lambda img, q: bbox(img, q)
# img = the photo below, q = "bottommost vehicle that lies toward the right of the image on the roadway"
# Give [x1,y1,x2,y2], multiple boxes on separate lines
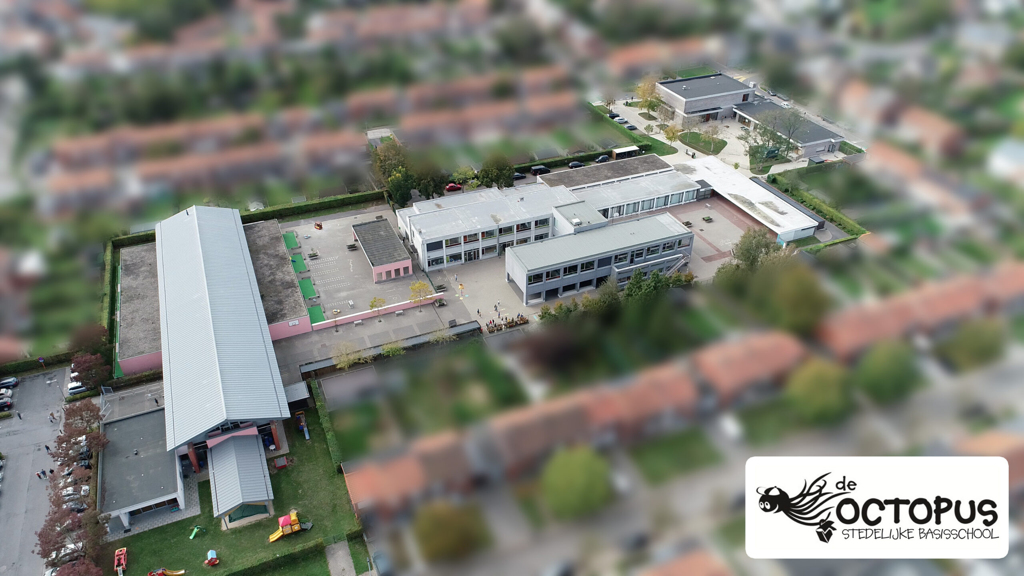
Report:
[617,530,653,558]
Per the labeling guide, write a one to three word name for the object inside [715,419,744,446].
vehicle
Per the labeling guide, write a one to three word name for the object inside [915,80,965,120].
house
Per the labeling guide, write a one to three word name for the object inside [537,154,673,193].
building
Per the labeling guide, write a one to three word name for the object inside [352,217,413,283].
building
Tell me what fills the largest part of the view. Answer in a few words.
buildings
